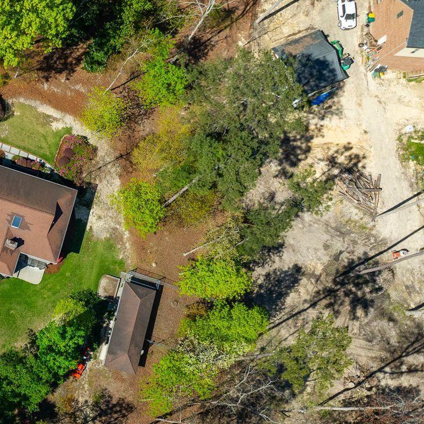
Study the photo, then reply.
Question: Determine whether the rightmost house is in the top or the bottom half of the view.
top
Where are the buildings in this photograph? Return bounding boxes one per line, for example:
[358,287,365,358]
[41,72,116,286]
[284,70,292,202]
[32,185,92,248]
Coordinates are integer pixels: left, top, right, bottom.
[263,30,347,101]
[369,0,424,72]
[101,282,156,376]
[0,165,78,278]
